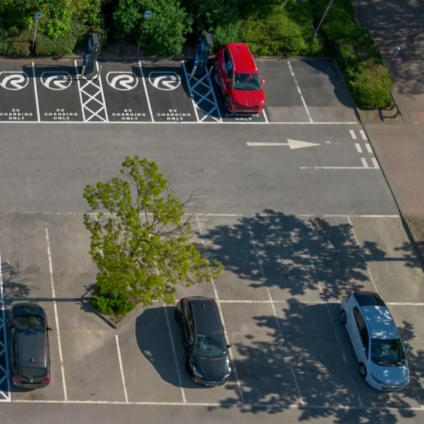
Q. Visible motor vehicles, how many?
4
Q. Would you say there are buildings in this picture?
No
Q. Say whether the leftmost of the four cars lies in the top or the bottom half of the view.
bottom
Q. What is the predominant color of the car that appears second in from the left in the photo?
black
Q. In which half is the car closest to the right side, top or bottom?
bottom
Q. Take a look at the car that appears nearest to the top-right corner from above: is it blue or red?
red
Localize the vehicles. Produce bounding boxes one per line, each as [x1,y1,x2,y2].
[345,297,422,392]
[218,42,270,108]
[5,302,57,397]
[179,297,241,389]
